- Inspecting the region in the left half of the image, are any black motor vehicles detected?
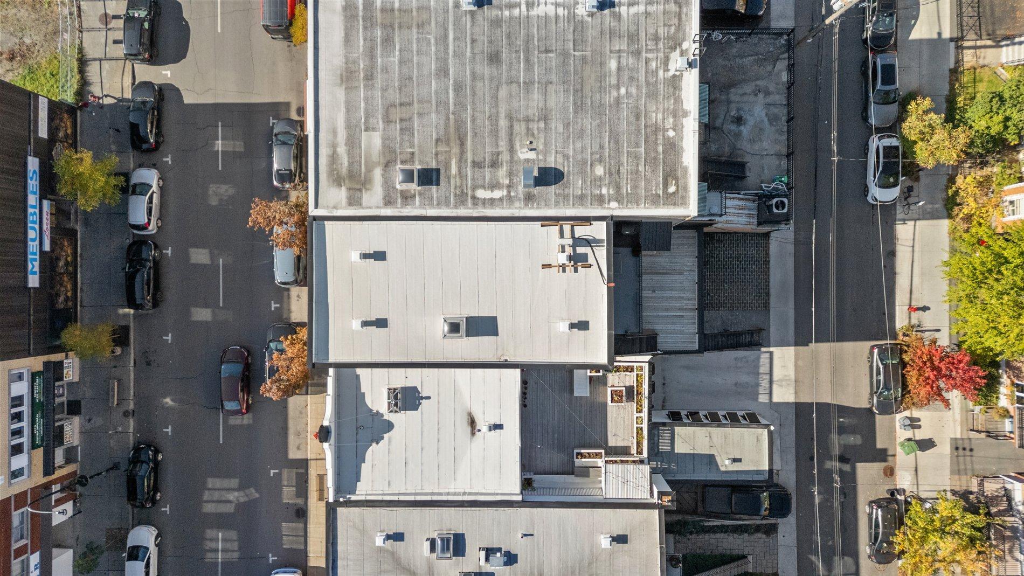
Yes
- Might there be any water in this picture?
No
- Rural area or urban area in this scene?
urban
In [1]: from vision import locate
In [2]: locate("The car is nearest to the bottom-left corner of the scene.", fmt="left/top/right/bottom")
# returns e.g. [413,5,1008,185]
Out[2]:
[124,524,162,576]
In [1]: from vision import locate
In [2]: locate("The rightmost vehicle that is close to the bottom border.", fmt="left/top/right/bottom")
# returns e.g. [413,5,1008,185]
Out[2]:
[864,496,900,562]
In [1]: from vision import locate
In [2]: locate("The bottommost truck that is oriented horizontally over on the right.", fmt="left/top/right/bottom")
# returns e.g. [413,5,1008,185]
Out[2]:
[699,484,789,523]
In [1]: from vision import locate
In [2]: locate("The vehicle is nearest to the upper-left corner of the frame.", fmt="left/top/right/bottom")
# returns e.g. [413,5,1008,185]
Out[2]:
[122,0,162,67]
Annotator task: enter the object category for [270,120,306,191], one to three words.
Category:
car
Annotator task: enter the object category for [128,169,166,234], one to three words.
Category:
car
